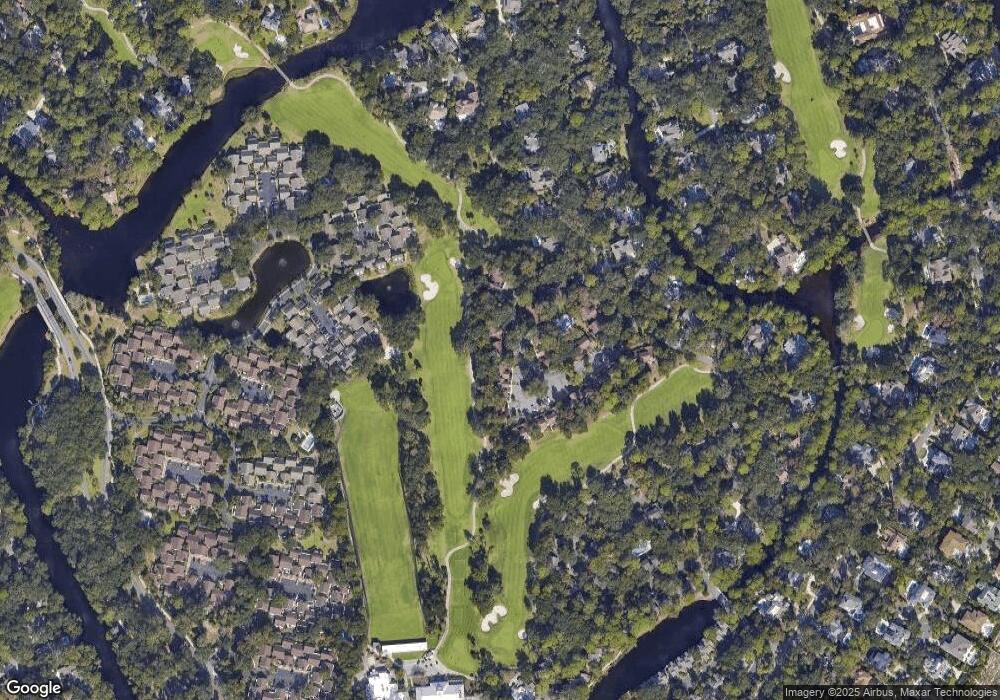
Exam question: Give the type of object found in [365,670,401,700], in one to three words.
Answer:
building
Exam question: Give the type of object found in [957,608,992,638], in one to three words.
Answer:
house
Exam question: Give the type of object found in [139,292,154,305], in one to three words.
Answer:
swimming pool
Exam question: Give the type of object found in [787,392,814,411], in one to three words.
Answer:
house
